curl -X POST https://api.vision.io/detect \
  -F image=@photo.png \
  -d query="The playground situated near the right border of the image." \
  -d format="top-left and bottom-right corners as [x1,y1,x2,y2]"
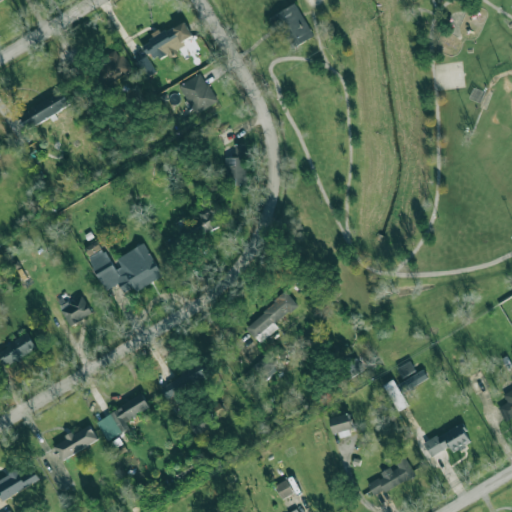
[440,8,488,56]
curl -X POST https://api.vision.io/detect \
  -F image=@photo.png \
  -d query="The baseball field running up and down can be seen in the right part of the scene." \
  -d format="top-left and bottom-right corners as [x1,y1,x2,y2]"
[457,77,512,244]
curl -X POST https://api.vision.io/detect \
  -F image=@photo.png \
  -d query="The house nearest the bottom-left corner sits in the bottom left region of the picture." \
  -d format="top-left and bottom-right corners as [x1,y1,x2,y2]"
[0,466,41,504]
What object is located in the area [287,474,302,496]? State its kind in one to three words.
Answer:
camper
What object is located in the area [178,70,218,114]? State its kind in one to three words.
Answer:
house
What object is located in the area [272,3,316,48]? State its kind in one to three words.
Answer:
building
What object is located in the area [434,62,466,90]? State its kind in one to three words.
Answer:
basketball court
